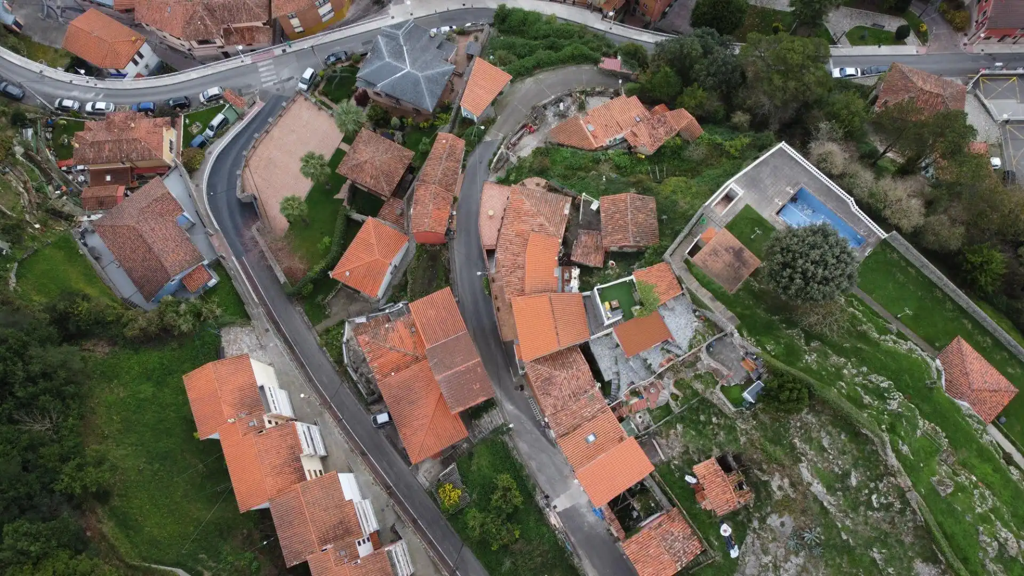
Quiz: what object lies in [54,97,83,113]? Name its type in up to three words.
car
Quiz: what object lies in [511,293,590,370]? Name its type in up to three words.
house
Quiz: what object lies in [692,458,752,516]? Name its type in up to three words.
shed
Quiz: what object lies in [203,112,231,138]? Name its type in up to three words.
car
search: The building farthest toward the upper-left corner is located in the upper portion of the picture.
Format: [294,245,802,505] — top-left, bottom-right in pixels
[0,2,34,43]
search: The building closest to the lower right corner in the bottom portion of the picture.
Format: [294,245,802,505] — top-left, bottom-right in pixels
[932,335,1020,424]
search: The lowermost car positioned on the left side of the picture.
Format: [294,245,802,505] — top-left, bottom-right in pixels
[367,412,395,429]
